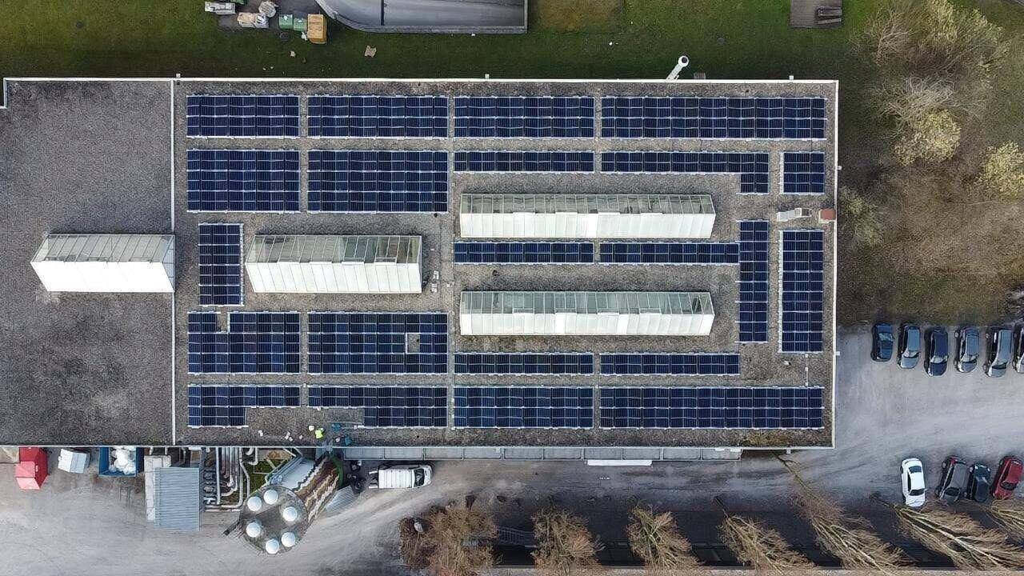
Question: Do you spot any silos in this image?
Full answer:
Yes, a silo can be made out from above.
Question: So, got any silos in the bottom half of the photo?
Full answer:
Yes, a silo is visible in the bottom half of the photo.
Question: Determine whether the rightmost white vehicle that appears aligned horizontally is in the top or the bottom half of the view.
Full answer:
Seen from above, the rightmost white vehicle that appears aligned horizontally lies in the bottom half of the view.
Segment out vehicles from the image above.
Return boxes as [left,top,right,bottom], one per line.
[952,327,979,372]
[368,464,432,490]
[896,324,922,368]
[990,455,1020,499]
[1011,327,1024,371]
[923,329,950,375]
[983,328,1011,376]
[898,458,926,505]
[964,462,990,502]
[871,324,895,361]
[935,455,967,502]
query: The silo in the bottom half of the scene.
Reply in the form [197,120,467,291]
[221,446,348,554]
